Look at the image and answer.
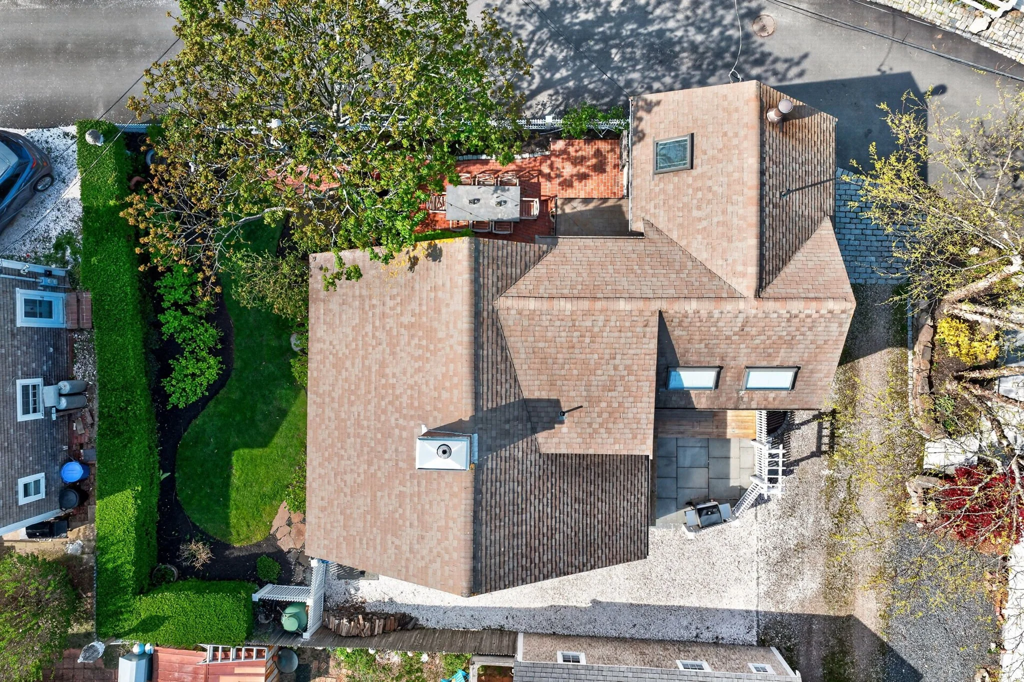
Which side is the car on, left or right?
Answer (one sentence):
It is on the left.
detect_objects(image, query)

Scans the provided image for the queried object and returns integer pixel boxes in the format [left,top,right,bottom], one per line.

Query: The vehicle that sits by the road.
[0,130,58,244]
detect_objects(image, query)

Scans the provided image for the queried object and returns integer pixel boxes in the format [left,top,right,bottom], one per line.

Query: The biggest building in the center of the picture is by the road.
[305,69,865,597]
